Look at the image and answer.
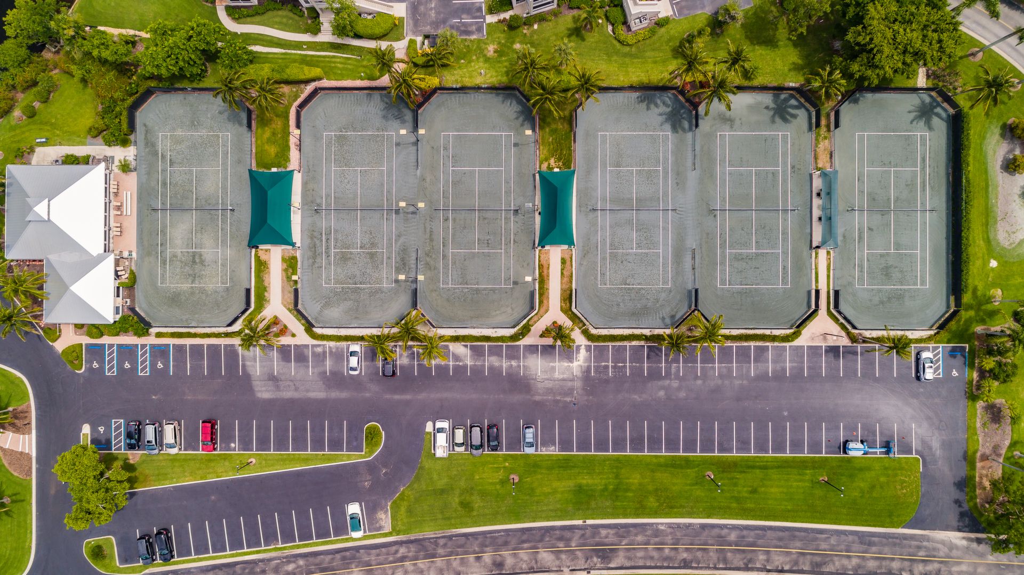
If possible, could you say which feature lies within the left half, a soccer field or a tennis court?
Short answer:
tennis court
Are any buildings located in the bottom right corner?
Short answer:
No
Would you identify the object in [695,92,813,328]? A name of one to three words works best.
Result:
tennis court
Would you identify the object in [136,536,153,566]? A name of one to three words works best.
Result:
car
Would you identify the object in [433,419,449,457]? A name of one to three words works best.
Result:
vehicle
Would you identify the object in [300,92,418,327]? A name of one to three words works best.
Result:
tennis court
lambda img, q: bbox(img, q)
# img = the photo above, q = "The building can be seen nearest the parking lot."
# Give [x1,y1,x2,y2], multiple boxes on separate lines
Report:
[6,162,130,324]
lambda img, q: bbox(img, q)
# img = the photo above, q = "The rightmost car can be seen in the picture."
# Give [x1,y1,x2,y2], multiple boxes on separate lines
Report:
[919,351,937,382]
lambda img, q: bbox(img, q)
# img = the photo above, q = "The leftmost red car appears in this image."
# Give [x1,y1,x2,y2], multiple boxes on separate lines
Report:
[200,421,217,452]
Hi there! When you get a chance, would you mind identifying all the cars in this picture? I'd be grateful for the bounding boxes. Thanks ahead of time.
[452,427,466,452]
[144,422,161,455]
[919,351,937,382]
[200,421,217,452]
[381,347,396,378]
[346,344,360,376]
[346,504,363,539]
[468,424,483,457]
[125,421,141,450]
[136,536,153,566]
[164,421,180,453]
[522,424,536,454]
[486,424,500,452]
[153,530,172,563]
